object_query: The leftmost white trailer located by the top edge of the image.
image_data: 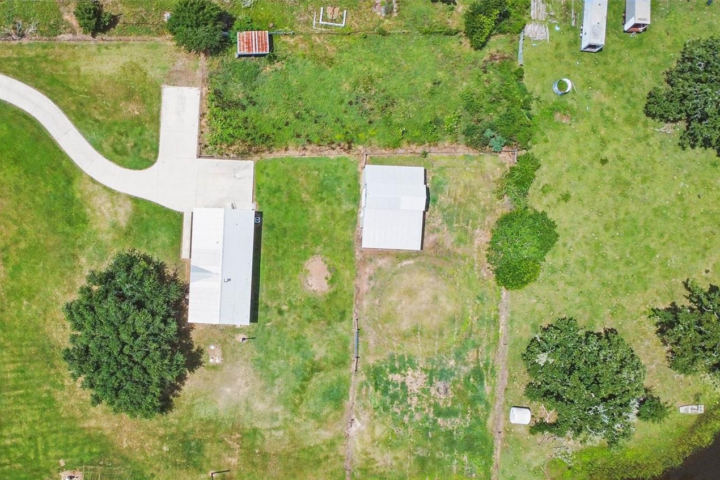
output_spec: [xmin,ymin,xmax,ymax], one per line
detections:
[578,0,608,52]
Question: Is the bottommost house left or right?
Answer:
left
